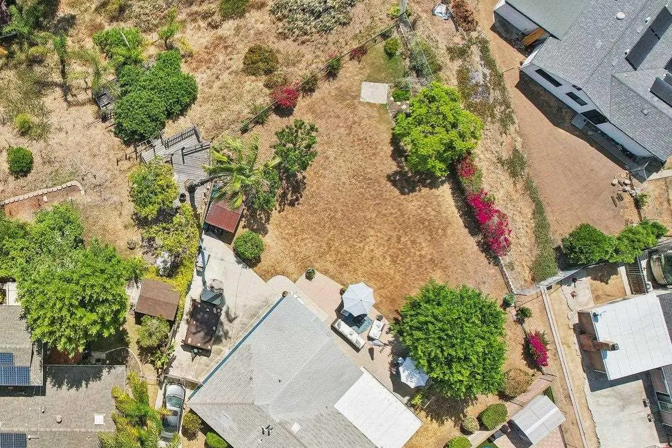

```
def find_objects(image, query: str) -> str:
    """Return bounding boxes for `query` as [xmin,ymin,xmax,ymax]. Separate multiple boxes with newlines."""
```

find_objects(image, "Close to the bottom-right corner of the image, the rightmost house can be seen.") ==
[572,289,672,448]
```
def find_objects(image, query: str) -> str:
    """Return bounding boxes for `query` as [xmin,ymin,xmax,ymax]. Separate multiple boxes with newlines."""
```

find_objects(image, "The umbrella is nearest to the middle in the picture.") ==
[339,282,375,318]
